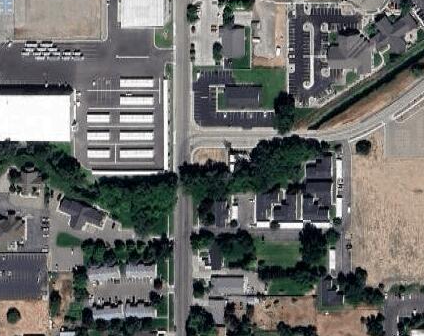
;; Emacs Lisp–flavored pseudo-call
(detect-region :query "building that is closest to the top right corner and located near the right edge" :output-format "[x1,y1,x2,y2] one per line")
[364,14,418,55]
